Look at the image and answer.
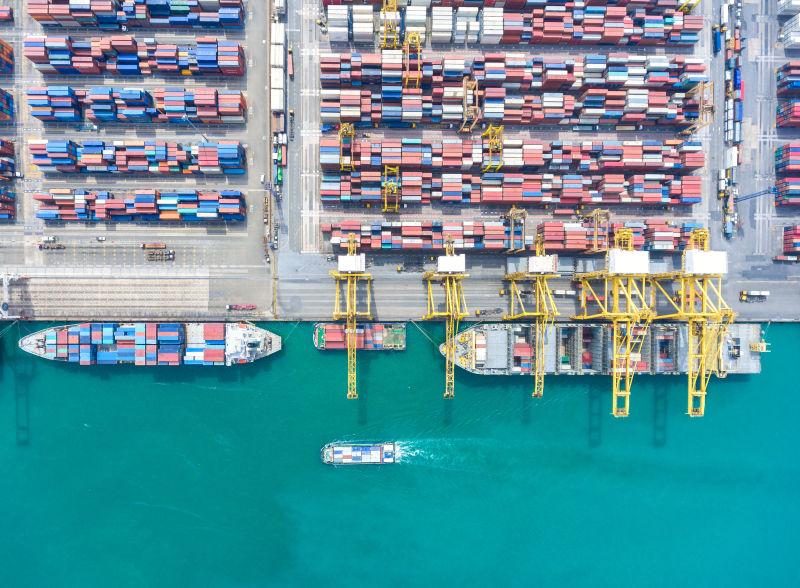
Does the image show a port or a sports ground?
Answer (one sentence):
This looks like a port.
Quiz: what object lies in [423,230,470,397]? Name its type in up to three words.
container crane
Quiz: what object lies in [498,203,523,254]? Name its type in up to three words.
container crane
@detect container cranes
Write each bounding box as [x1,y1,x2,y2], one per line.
[423,230,470,397]
[683,78,719,134]
[480,123,503,173]
[570,223,654,415]
[0,273,31,316]
[331,230,379,397]
[382,165,402,214]
[502,230,562,397]
[634,223,737,415]
[402,27,422,90]
[498,203,523,254]
[457,77,479,133]
[577,203,606,254]
[337,118,358,175]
